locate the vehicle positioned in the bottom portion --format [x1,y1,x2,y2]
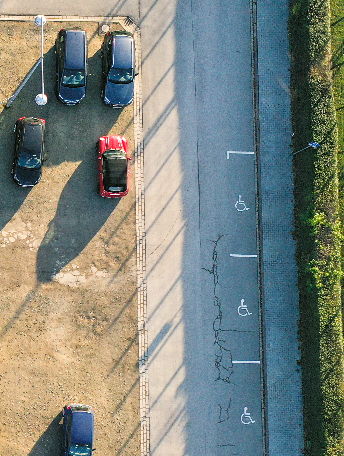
[62,401,96,456]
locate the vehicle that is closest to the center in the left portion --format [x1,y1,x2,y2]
[96,134,134,200]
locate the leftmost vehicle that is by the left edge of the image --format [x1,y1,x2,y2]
[10,115,48,188]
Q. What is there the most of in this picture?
paved ground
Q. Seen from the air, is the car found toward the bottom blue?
Yes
